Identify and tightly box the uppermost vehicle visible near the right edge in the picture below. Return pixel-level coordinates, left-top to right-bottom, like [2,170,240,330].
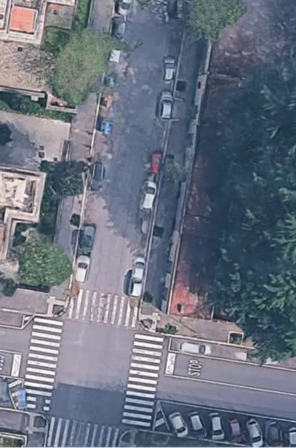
[261,357,282,370]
